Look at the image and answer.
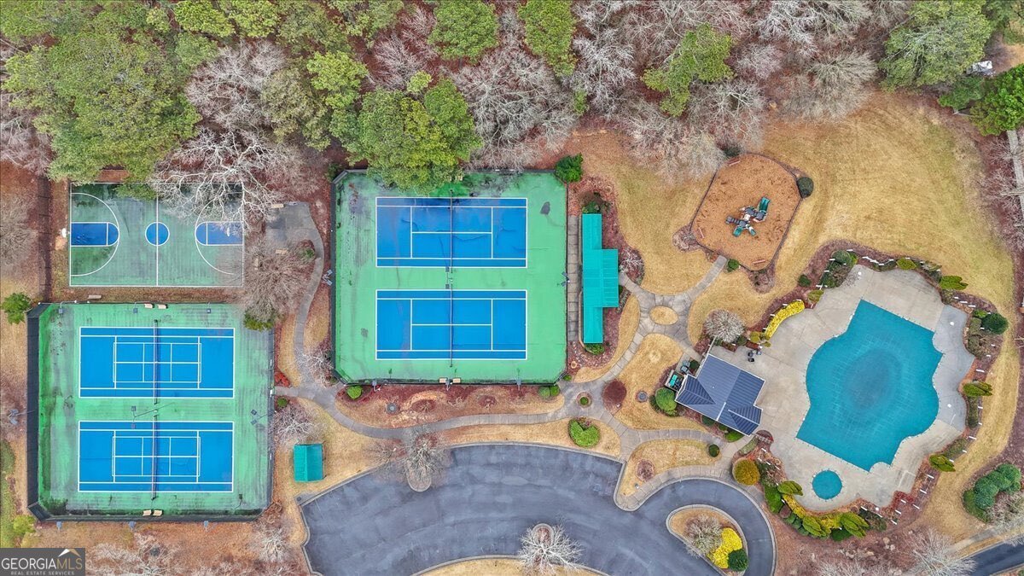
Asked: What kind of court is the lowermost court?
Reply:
tennis court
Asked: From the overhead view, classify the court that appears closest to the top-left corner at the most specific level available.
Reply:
basketball court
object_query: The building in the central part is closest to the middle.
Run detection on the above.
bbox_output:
[582,214,618,344]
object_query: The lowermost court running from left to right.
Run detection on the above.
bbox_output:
[39,410,269,514]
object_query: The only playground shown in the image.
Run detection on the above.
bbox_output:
[690,151,804,273]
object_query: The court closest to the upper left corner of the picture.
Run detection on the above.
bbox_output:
[68,181,245,288]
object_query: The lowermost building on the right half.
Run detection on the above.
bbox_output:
[675,354,765,436]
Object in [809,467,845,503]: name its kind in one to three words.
swimming pool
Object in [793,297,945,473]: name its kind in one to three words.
swimming pool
